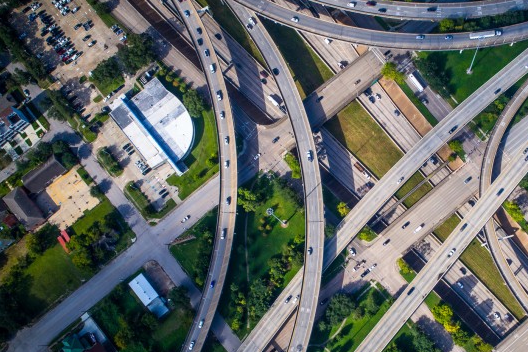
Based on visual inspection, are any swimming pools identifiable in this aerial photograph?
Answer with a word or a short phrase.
No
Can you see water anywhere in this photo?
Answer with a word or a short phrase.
No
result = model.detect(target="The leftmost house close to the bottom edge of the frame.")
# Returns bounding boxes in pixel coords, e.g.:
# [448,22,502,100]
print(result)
[62,334,88,352]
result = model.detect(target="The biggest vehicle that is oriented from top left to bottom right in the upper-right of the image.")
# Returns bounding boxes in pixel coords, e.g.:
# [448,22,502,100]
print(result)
[410,74,426,90]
